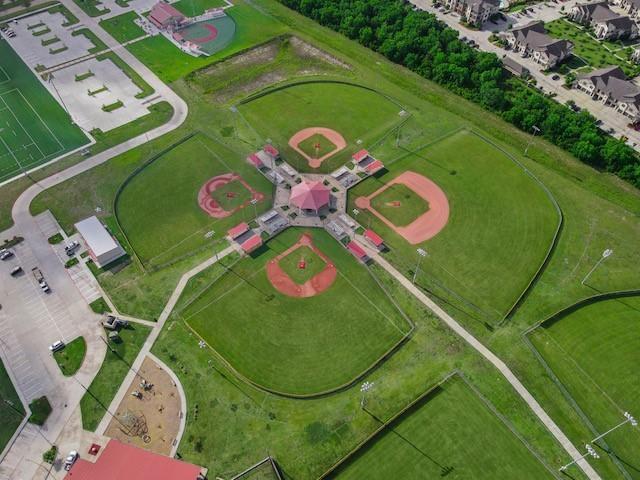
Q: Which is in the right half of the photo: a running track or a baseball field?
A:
baseball field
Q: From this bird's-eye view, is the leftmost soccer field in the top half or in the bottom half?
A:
top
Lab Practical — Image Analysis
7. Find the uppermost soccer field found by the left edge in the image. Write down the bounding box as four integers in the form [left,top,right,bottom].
[0,28,95,188]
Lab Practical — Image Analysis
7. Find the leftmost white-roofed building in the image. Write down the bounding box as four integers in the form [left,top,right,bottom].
[75,215,127,270]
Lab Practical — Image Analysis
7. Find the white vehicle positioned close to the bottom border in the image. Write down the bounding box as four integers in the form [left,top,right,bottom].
[61,450,75,469]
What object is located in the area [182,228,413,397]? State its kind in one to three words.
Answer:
baseball field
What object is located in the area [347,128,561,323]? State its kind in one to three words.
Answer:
baseball field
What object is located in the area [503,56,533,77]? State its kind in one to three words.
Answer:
shed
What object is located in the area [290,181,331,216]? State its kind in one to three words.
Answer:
building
